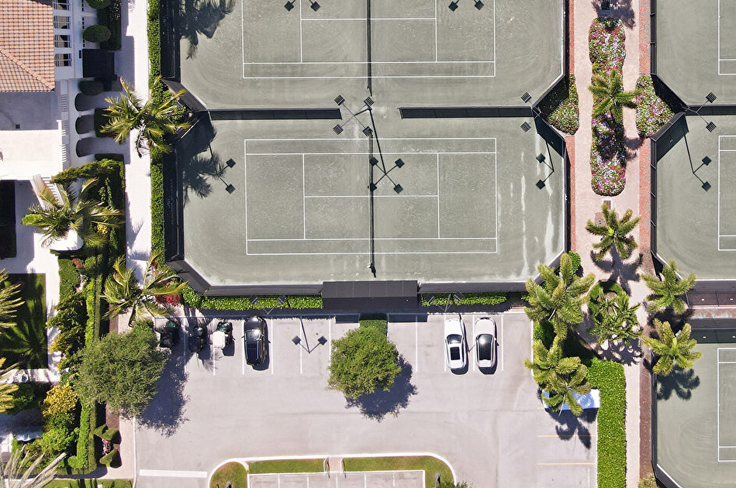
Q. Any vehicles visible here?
Yes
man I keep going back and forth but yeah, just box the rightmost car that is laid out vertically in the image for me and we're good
[473,316,497,368]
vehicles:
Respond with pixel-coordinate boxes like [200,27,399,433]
[473,316,497,368]
[157,320,180,352]
[443,316,468,368]
[242,314,270,366]
[213,320,233,352]
[190,322,210,354]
